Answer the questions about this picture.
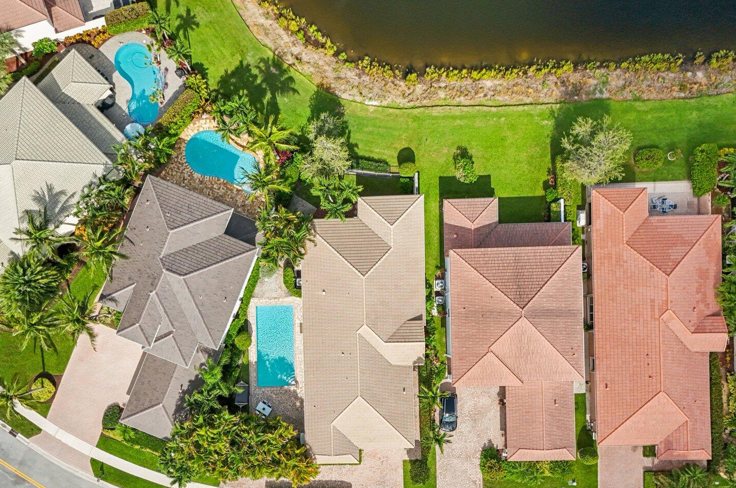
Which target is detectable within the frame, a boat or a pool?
pool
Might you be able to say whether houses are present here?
Yes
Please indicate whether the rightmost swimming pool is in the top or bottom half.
bottom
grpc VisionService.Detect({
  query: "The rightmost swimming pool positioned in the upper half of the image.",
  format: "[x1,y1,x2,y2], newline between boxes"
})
[182,128,264,195]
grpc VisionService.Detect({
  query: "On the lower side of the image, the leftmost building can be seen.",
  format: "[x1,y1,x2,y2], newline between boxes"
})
[98,173,258,446]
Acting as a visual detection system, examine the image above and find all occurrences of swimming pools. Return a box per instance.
[182,128,264,195]
[255,304,299,394]
[112,40,167,125]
